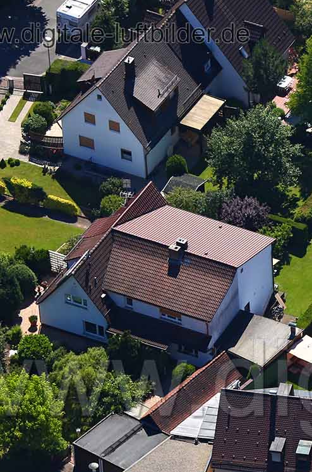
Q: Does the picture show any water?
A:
No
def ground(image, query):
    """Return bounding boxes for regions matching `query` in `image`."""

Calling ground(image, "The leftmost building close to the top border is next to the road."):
[55,2,225,178]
